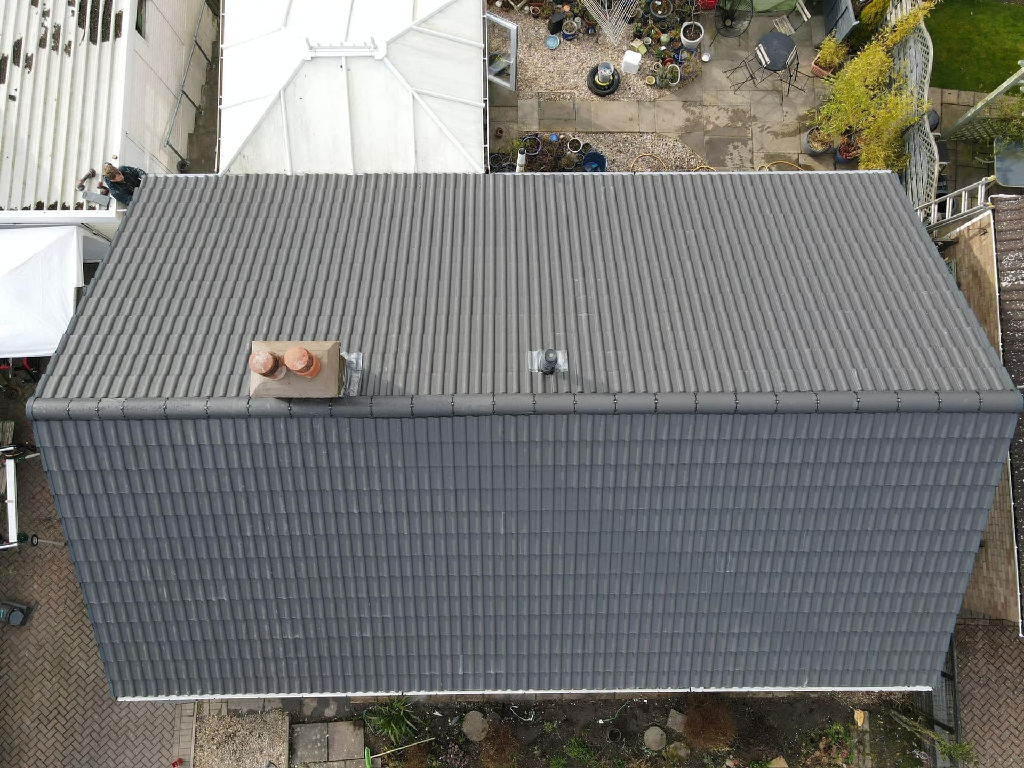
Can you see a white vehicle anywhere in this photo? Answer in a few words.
No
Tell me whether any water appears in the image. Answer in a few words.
No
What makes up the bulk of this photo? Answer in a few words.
buildings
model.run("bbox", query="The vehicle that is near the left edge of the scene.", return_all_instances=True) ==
[15,353,39,383]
